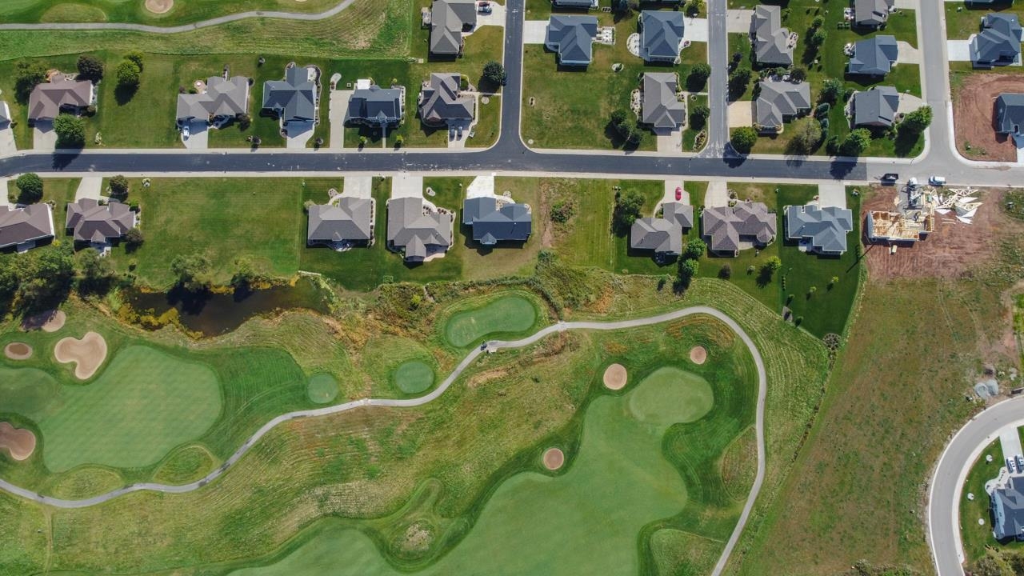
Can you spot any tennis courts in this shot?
No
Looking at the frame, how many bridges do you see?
0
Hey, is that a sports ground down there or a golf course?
golf course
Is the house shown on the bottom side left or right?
right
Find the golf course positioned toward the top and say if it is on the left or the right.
left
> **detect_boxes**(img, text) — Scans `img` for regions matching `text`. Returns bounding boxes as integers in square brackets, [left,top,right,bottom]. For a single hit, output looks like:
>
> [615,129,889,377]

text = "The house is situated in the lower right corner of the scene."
[991,474,1024,542]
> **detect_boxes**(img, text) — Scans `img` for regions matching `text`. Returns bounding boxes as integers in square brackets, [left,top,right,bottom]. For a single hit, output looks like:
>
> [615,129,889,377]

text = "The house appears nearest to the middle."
[463,196,532,244]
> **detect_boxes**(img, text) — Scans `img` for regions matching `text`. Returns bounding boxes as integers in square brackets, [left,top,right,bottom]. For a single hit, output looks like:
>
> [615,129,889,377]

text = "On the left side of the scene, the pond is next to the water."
[123,279,336,337]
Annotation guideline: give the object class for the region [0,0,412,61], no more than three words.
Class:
golf course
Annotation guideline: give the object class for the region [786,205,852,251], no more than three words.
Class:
house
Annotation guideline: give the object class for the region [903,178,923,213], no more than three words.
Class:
vehicle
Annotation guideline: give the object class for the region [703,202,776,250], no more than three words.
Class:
house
